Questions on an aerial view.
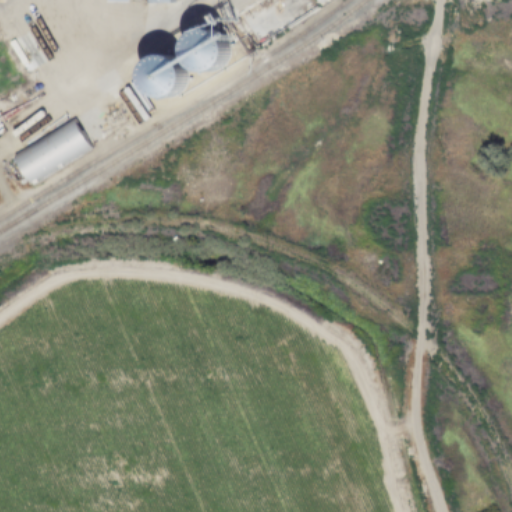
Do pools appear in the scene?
No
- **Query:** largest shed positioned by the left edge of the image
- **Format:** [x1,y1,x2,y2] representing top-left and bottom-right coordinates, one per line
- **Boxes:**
[18,116,92,182]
